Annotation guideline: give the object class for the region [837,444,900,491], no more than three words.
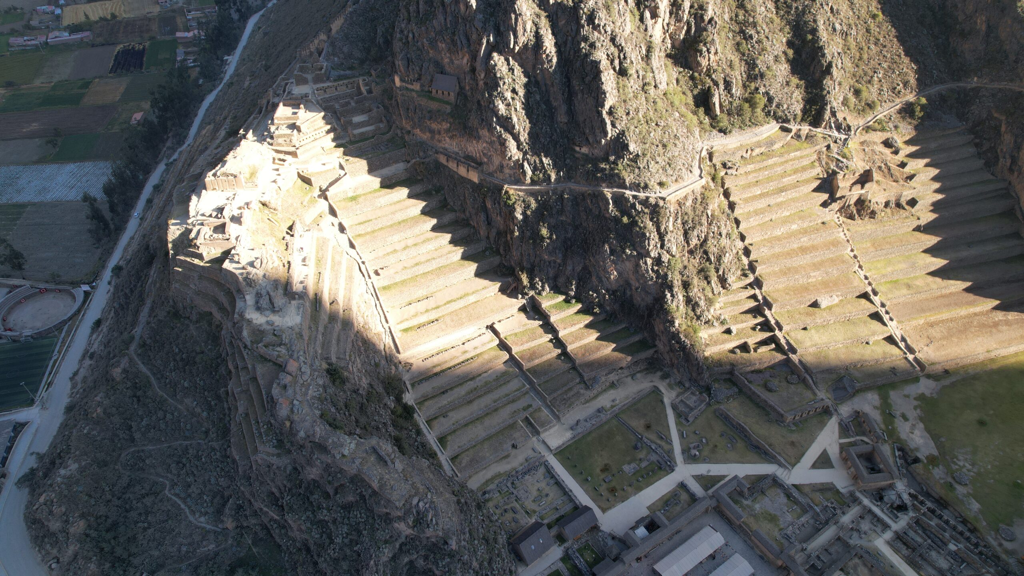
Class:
house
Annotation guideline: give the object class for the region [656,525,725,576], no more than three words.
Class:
house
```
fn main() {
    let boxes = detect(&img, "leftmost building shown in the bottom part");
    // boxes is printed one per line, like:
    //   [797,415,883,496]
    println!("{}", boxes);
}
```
[507,516,556,567]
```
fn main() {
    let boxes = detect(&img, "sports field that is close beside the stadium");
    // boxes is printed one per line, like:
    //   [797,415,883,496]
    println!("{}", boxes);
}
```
[0,336,59,408]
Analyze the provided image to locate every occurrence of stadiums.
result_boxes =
[0,272,93,344]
